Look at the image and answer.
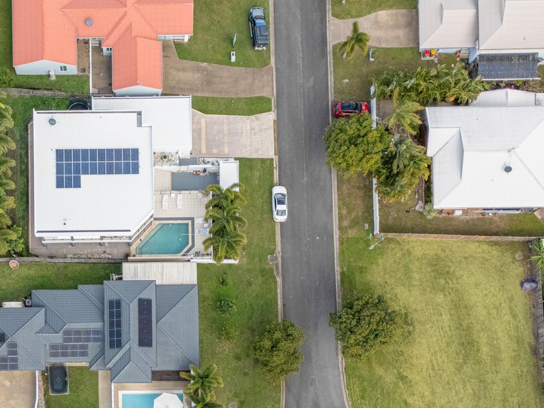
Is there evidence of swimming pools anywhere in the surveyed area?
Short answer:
Yes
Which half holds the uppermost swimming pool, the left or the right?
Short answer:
left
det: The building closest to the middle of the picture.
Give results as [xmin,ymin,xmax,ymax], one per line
[219,161,239,192]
